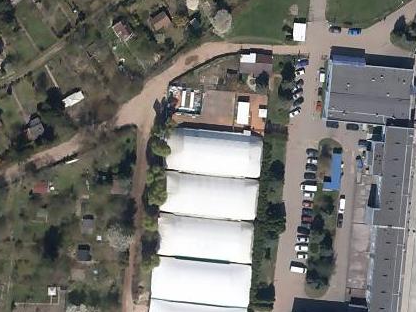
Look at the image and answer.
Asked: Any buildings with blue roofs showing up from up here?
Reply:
Yes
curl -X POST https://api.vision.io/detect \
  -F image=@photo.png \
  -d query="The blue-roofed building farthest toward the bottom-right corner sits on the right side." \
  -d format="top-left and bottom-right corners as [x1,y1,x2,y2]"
[321,153,341,191]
